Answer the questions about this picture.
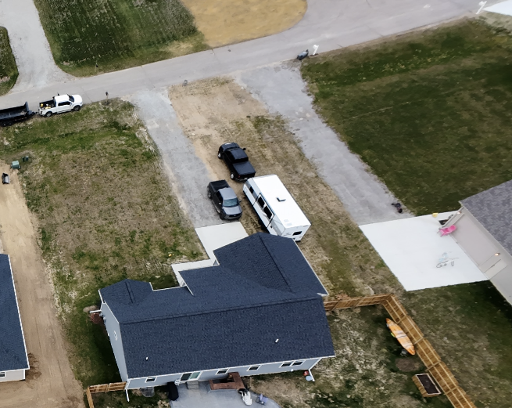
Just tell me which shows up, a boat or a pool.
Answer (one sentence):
This aerial view contains a boat.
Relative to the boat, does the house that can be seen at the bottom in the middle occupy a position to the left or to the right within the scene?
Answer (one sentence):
The house that can be seen at the bottom in the middle is to the left of the boat.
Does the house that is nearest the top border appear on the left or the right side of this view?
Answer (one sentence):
The house that is nearest the top border appears in the right half of the scene.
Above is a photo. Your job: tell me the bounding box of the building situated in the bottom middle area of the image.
[97,231,336,403]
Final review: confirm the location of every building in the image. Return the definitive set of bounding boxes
[97,231,336,403]
[0,252,29,384]
[441,182,512,304]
